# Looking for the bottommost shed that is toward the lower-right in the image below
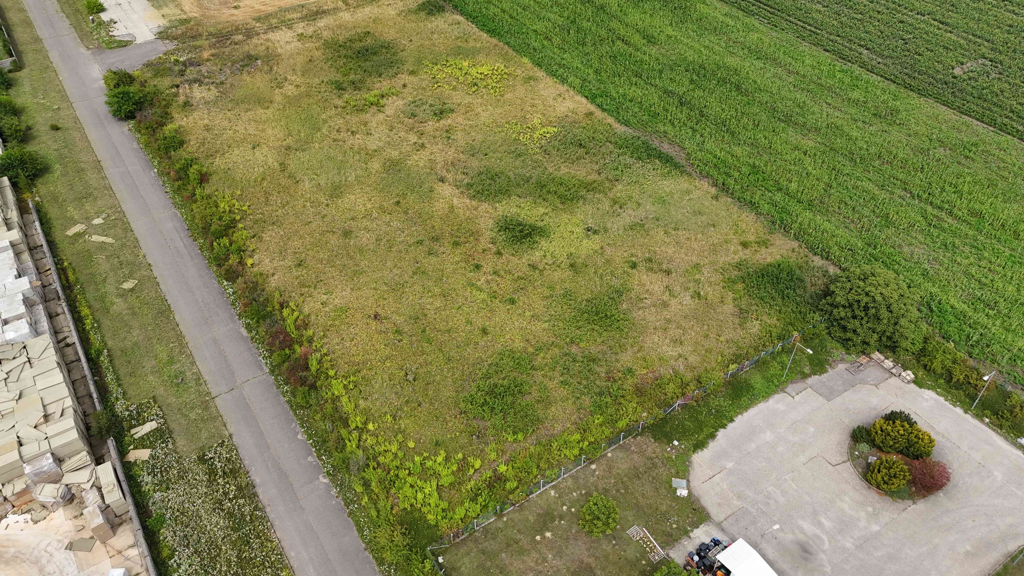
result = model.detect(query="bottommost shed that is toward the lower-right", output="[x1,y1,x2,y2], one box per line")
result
[713,538,780,576]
